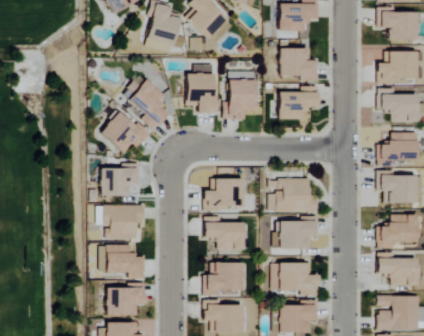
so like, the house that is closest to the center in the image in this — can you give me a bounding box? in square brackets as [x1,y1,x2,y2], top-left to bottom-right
[202,178,243,210]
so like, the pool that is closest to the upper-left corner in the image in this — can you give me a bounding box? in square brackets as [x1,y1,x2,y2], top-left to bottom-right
[94,28,115,40]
